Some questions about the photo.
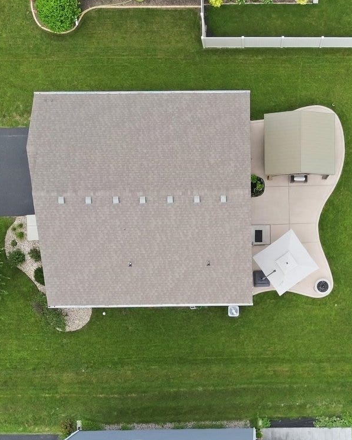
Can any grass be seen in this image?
Yes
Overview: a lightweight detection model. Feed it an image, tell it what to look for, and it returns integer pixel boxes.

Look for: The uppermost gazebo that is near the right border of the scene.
[264,111,335,180]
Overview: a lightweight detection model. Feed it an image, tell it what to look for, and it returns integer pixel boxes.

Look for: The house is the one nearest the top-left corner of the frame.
[24,90,251,308]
